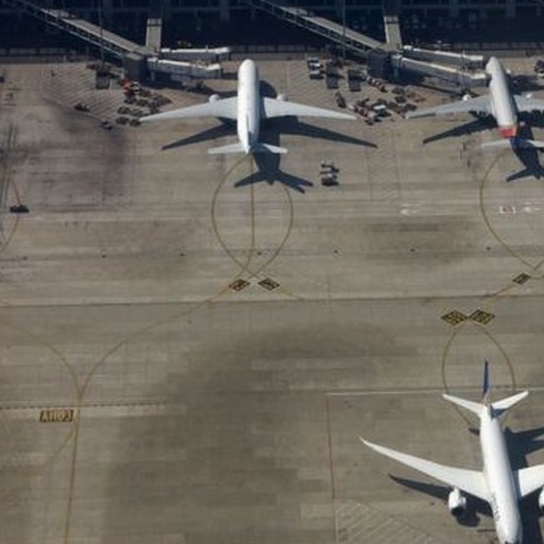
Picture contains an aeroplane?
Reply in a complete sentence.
Yes, there's an aeroplane down there.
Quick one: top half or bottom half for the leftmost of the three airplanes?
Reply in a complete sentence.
The leftmost of the three airplanes sits in the top half of the picture.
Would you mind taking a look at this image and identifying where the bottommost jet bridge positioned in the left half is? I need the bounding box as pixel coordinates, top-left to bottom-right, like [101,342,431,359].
[143,59,231,95]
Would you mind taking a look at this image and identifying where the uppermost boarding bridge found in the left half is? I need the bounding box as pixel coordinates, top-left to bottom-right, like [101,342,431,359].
[157,42,237,66]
